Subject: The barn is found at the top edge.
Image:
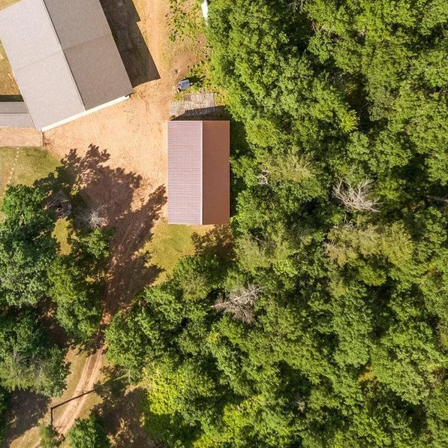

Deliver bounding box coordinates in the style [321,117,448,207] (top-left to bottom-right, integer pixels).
[0,0,134,134]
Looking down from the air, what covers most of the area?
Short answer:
trees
